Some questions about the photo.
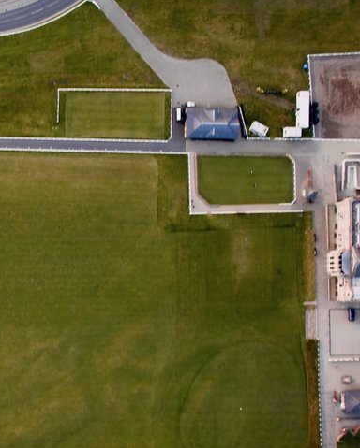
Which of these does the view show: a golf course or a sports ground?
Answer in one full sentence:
What you see here is a golf course.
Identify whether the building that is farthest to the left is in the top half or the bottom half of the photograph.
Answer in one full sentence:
The building that is farthest to the left sits in the top half of the picture.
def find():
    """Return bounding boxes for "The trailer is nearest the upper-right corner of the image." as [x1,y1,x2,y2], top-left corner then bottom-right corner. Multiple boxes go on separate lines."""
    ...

[290,90,310,131]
